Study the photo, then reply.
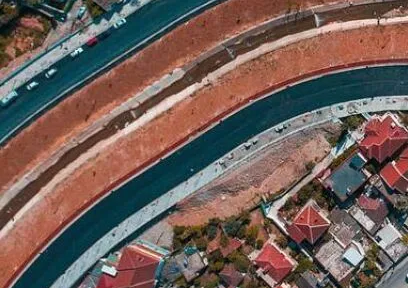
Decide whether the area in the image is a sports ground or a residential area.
residential area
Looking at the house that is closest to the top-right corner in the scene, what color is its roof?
red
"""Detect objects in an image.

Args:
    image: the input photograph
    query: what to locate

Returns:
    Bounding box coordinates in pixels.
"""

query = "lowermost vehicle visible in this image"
[1,92,17,104]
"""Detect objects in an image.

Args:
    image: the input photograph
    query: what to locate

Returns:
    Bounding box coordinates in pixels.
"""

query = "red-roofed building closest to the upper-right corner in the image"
[361,119,408,164]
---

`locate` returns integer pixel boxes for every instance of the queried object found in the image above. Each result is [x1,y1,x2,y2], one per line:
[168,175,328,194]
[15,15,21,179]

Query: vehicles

[70,46,84,57]
[1,92,17,104]
[27,80,39,89]
[77,6,87,17]
[115,18,127,28]
[86,36,99,47]
[44,67,59,78]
